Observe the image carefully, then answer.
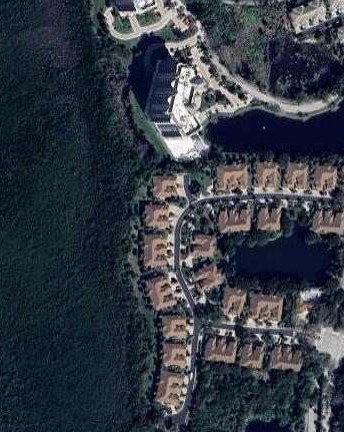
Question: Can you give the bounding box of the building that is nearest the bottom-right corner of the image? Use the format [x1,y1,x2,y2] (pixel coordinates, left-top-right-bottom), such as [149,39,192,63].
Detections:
[268,346,302,370]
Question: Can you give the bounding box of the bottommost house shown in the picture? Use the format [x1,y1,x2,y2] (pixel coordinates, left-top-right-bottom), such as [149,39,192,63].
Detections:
[155,368,186,403]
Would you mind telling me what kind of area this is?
residential area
